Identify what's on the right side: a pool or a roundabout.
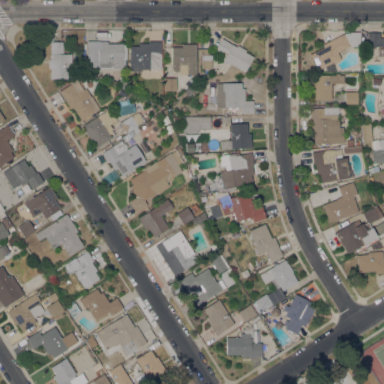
pool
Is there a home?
Yes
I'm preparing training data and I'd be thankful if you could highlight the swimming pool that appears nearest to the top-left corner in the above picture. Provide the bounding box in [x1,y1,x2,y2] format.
[119,100,137,116]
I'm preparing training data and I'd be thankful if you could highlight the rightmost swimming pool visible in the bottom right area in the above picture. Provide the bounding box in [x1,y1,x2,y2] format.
[271,326,292,348]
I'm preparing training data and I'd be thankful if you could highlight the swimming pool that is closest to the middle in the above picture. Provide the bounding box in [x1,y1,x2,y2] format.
[198,158,217,170]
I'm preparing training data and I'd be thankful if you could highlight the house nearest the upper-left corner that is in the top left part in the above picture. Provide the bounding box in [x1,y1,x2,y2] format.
[50,41,70,81]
